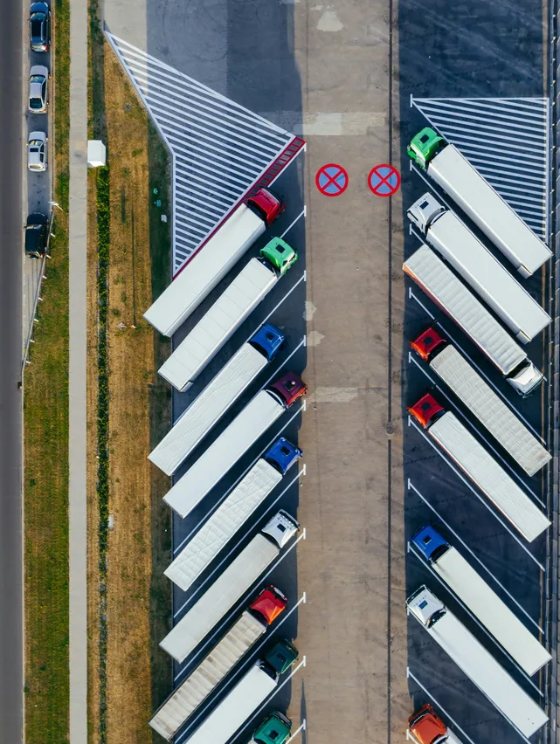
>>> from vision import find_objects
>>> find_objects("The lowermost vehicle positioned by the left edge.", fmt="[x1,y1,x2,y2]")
[25,212,50,262]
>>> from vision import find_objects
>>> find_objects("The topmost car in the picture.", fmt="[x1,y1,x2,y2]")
[27,3,51,54]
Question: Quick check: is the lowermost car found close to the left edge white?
No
